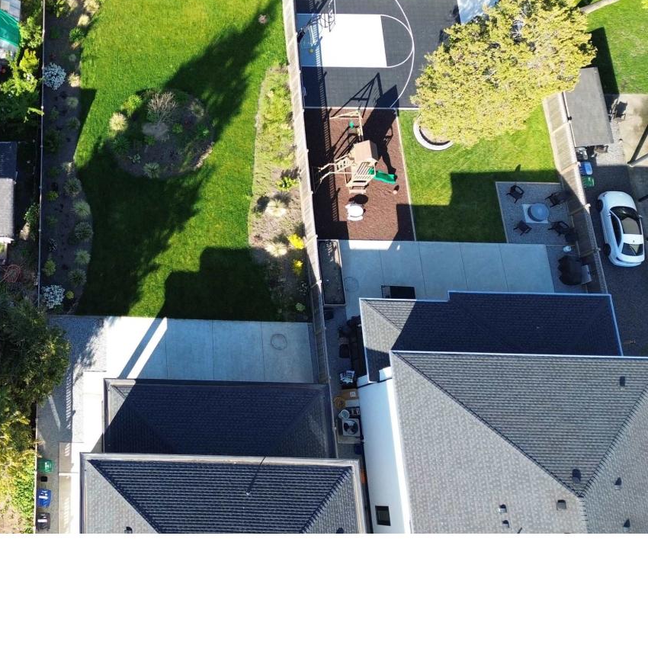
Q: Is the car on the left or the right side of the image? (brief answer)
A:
right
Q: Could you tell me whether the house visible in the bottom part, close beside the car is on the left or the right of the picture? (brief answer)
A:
right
